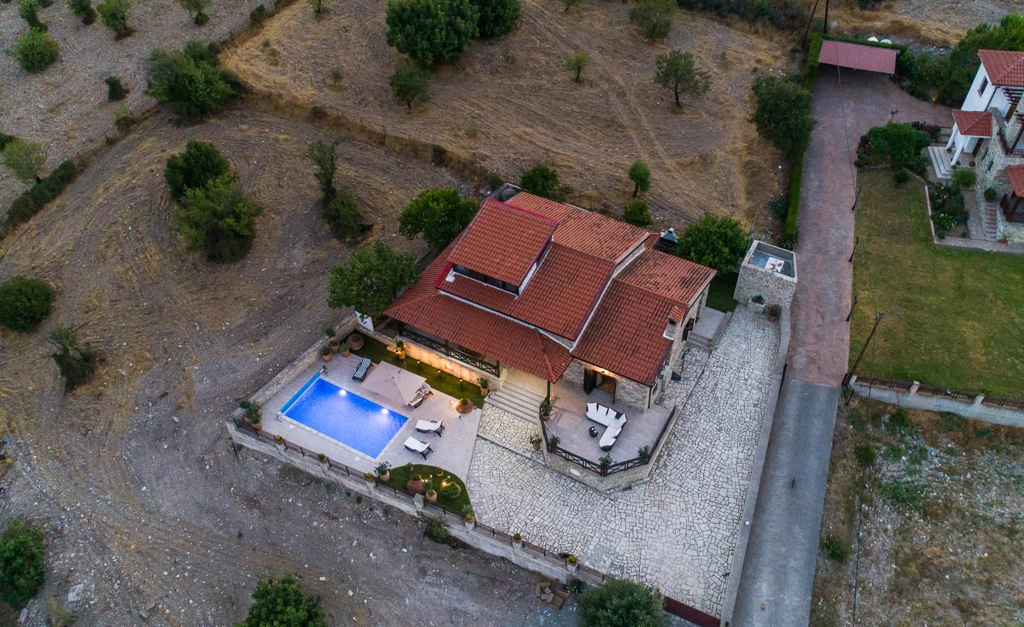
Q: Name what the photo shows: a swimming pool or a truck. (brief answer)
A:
swimming pool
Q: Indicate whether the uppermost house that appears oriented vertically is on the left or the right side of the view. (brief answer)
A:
right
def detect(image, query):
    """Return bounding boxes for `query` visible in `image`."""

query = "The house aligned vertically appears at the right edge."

[931,52,1024,246]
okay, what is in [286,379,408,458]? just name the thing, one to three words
swimming pool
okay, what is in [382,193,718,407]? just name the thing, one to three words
house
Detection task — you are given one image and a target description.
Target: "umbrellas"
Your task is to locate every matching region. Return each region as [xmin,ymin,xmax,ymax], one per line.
[362,357,427,406]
